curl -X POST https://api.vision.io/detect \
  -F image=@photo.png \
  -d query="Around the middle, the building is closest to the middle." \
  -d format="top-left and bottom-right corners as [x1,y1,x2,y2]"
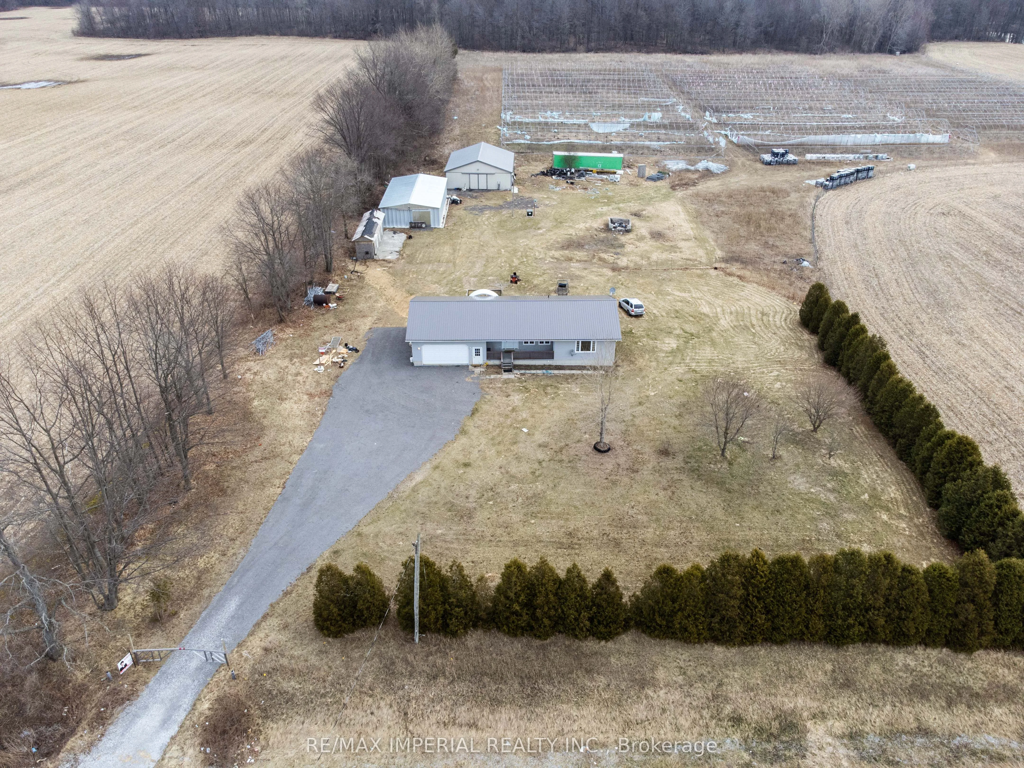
[405,292,622,374]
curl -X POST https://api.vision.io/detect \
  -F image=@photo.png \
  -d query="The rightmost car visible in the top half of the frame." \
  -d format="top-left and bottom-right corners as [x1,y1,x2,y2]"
[619,294,647,314]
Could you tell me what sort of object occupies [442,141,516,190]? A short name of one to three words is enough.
barn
